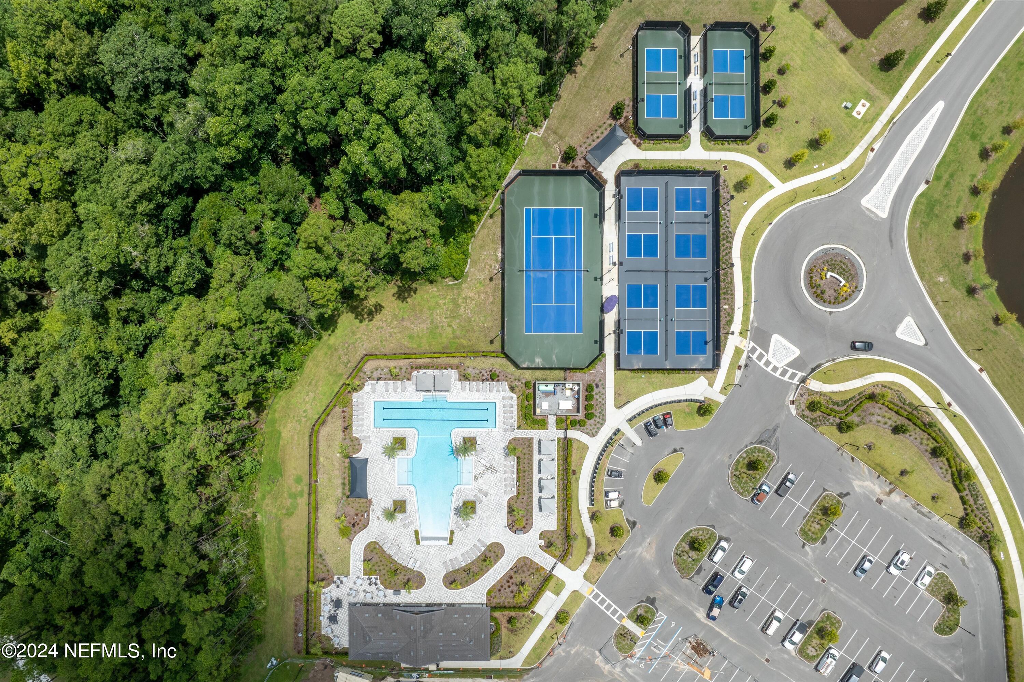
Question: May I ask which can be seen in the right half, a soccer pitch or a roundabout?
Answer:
roundabout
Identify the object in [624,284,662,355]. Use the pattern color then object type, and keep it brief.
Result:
blue sports court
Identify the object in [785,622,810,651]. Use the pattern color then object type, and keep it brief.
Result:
white truck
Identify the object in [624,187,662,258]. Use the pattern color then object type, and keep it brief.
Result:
blue sports court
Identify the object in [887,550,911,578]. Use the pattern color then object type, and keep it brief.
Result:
white car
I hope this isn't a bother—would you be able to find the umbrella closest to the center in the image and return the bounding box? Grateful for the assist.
[605,294,620,309]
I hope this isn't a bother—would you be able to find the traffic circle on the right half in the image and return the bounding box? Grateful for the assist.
[801,245,866,310]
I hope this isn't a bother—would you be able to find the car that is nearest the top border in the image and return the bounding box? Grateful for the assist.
[851,340,875,352]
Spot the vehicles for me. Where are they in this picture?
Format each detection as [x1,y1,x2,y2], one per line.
[916,566,937,591]
[872,652,891,675]
[609,470,625,480]
[710,541,730,566]
[730,587,751,612]
[733,556,755,581]
[817,649,841,682]
[765,612,786,637]
[887,550,911,578]
[777,471,801,501]
[851,340,875,352]
[664,415,675,430]
[753,483,772,506]
[607,491,622,500]
[705,572,726,598]
[646,423,661,440]
[855,555,876,579]
[709,596,724,623]
[785,622,810,651]
[653,416,666,431]
[846,662,871,682]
